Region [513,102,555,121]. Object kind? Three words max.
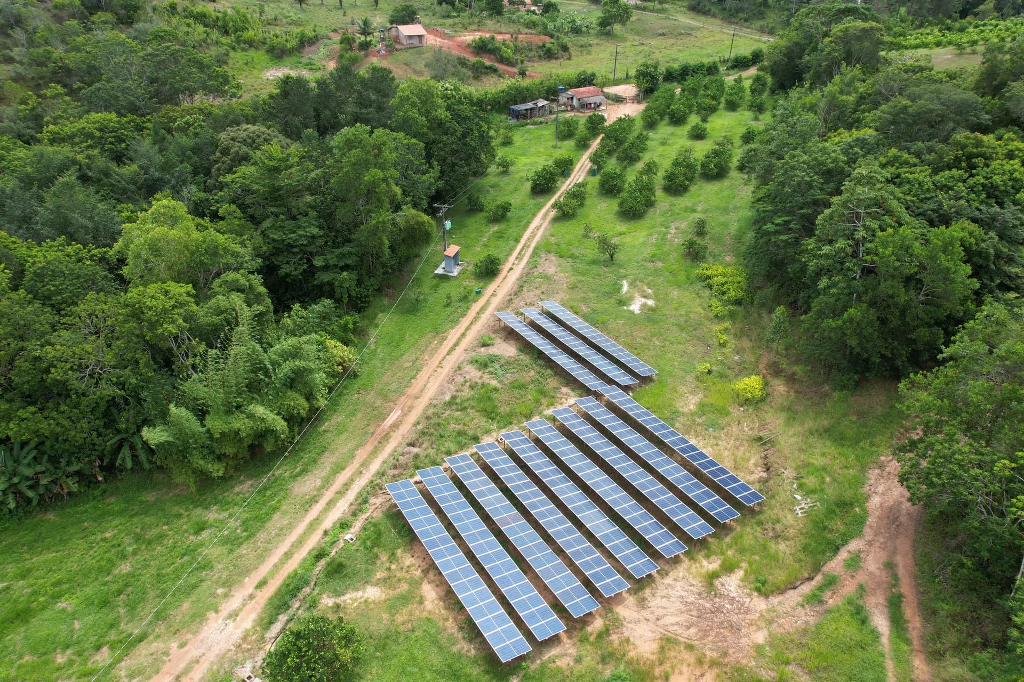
shed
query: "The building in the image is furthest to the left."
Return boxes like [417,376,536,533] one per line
[396,22,430,50]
